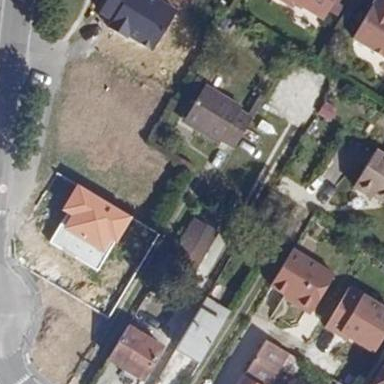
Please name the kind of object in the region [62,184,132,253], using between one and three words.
house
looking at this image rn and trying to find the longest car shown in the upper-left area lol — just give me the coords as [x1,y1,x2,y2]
[31,72,52,85]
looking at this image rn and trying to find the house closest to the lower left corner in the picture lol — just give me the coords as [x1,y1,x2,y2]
[109,324,164,380]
